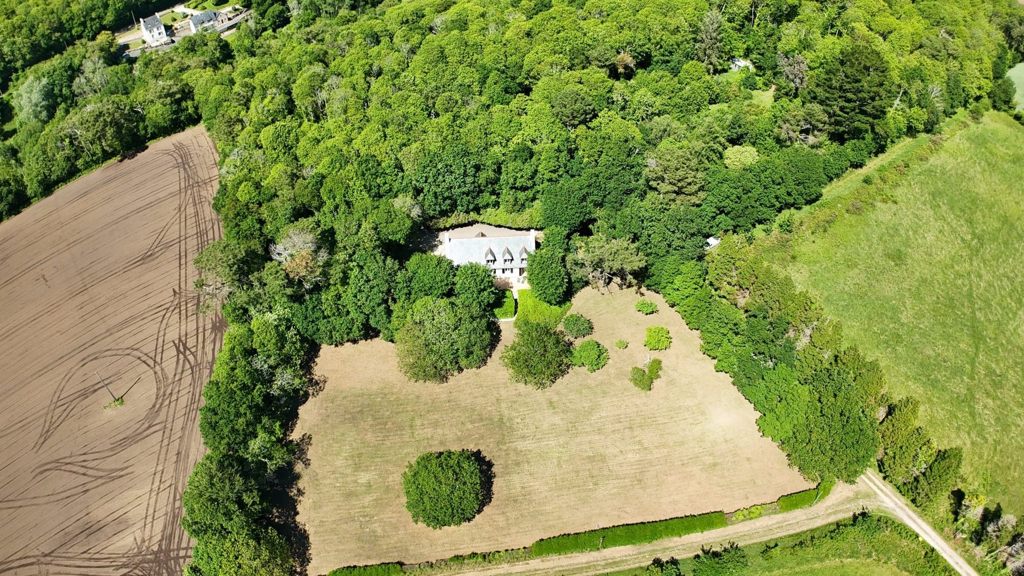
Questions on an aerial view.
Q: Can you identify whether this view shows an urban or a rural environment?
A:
rural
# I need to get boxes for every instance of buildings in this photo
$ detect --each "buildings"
[138,10,179,52]
[727,59,751,79]
[191,8,240,37]
[445,227,536,278]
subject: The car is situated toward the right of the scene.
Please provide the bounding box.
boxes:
[705,236,724,250]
